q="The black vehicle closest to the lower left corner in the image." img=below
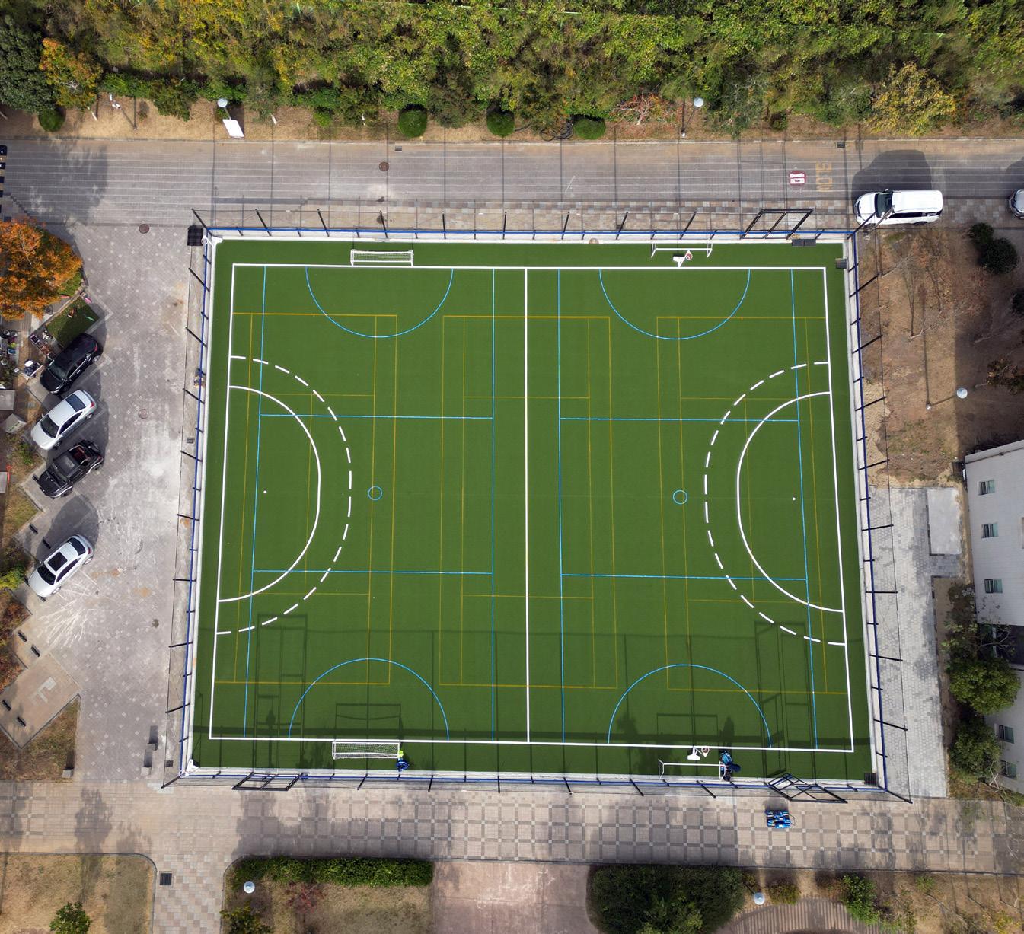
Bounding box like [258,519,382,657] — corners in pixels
[36,440,107,502]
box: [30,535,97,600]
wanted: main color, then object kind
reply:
white car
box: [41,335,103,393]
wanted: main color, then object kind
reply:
black car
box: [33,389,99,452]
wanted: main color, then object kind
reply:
white car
